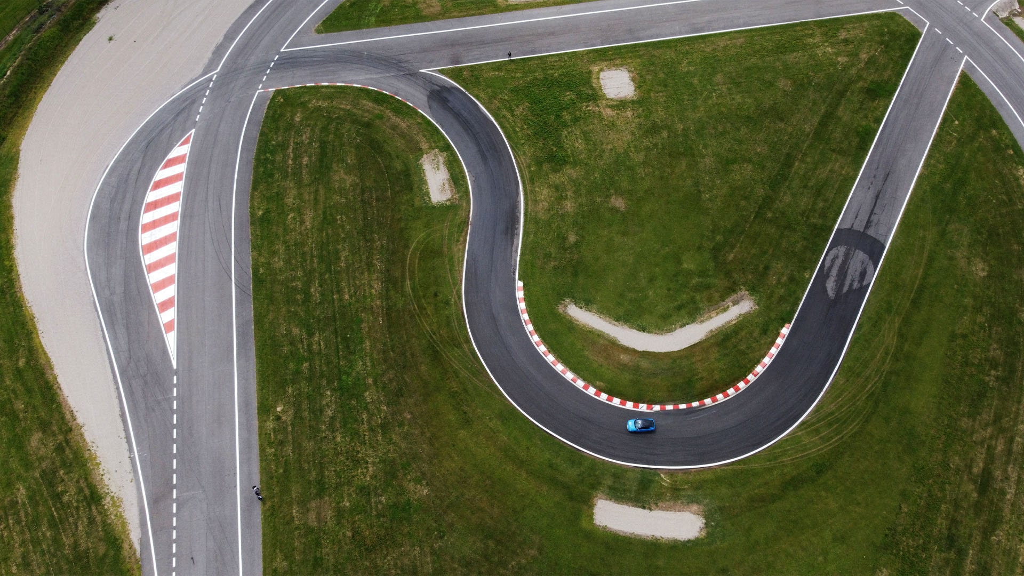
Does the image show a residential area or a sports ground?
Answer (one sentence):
It's a sports ground.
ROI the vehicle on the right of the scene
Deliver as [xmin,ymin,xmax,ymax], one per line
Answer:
[627,417,657,433]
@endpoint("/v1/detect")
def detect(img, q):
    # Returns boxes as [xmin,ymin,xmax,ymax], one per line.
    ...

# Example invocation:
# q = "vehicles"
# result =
[627,417,657,433]
[249,484,262,500]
